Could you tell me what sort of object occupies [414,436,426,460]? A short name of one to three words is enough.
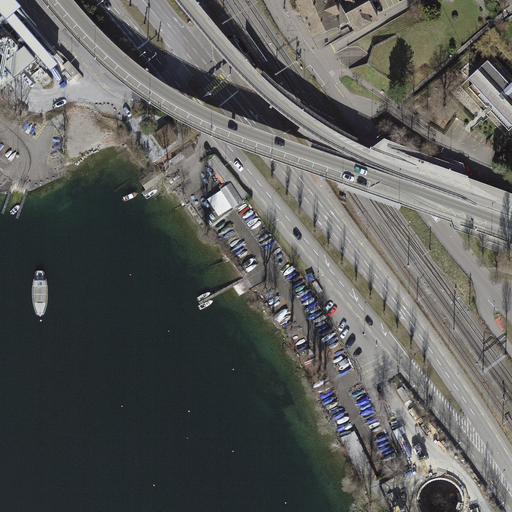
vehicle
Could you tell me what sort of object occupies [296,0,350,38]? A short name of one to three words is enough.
house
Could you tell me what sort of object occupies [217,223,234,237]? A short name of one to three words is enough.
boat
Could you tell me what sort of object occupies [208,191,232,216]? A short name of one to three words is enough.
building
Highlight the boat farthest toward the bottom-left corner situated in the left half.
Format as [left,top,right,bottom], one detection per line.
[32,270,48,316]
